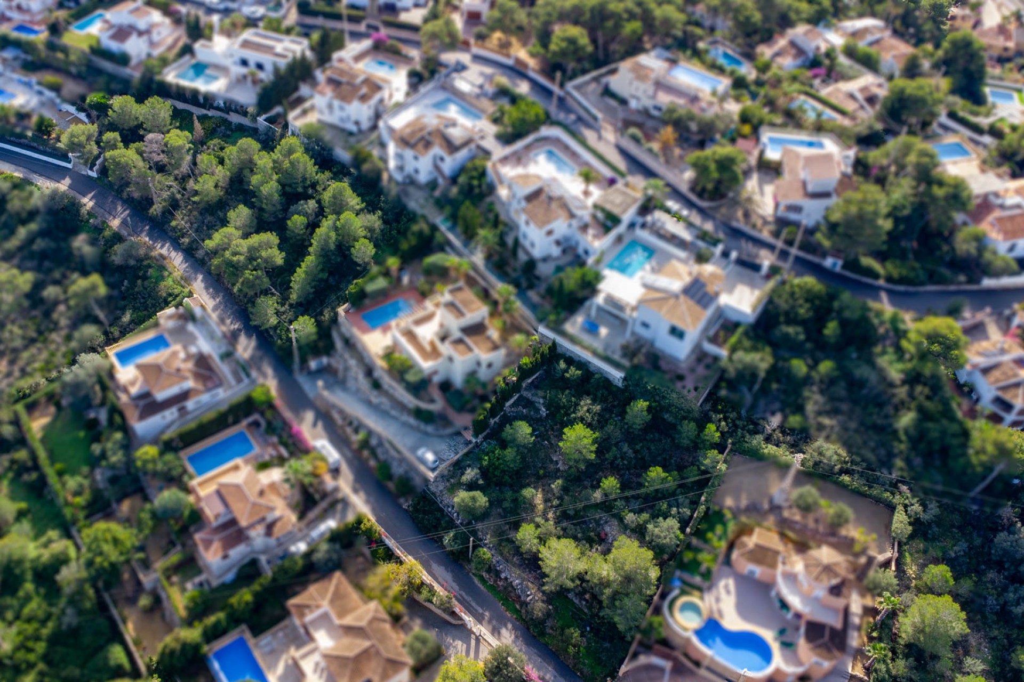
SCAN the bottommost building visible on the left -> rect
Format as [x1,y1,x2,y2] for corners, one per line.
[282,567,418,682]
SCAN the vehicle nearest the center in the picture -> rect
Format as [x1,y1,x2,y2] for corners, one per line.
[416,446,443,470]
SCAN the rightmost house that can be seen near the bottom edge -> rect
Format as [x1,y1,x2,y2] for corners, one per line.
[725,527,859,682]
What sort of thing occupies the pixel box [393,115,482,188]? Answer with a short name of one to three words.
house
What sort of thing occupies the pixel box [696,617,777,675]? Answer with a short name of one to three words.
swimming pool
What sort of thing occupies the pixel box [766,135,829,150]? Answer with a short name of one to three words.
swimming pool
